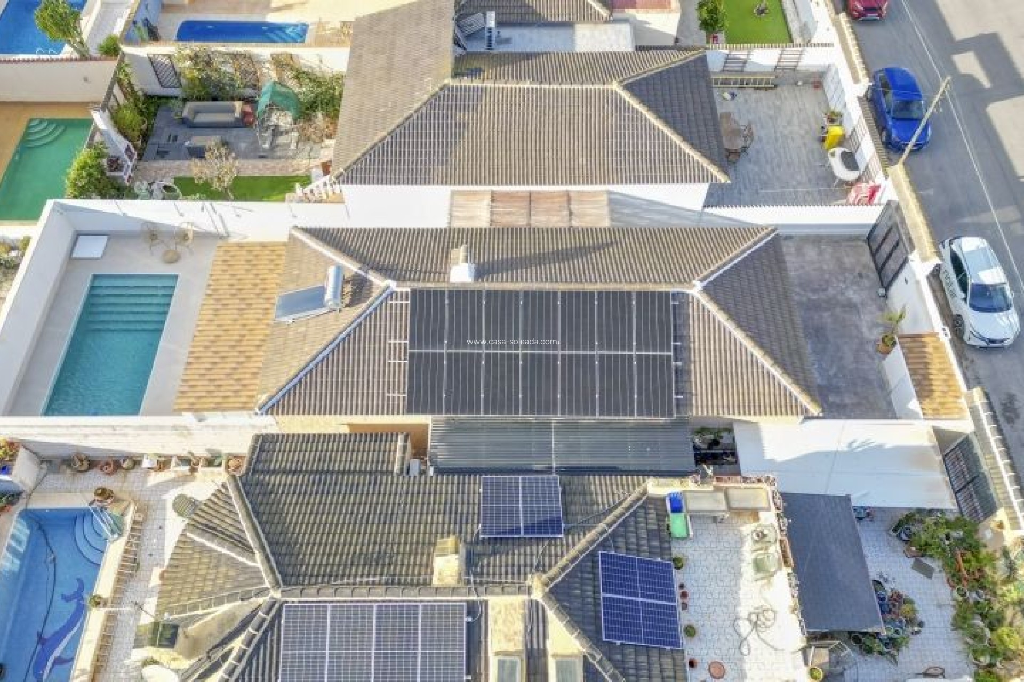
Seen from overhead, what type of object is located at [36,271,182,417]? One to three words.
swimming pool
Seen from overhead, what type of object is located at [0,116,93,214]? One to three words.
swimming pool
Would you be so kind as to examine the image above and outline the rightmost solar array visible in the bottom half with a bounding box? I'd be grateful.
[599,550,682,654]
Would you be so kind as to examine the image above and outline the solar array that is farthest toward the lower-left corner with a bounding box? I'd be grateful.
[274,602,478,682]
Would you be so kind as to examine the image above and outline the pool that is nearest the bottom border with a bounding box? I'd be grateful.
[0,502,118,682]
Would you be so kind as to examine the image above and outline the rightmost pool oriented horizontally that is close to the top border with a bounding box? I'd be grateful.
[165,19,312,46]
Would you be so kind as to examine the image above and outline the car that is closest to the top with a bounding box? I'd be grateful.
[842,0,885,25]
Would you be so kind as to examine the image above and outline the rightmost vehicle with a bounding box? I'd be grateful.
[930,242,1017,347]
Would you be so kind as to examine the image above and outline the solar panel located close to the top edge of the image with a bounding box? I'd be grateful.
[460,13,485,33]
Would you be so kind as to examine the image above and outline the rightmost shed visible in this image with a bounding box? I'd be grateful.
[882,332,969,415]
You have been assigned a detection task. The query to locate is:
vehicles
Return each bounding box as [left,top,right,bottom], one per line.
[930,242,1017,347]
[869,79,934,153]
[842,0,885,25]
